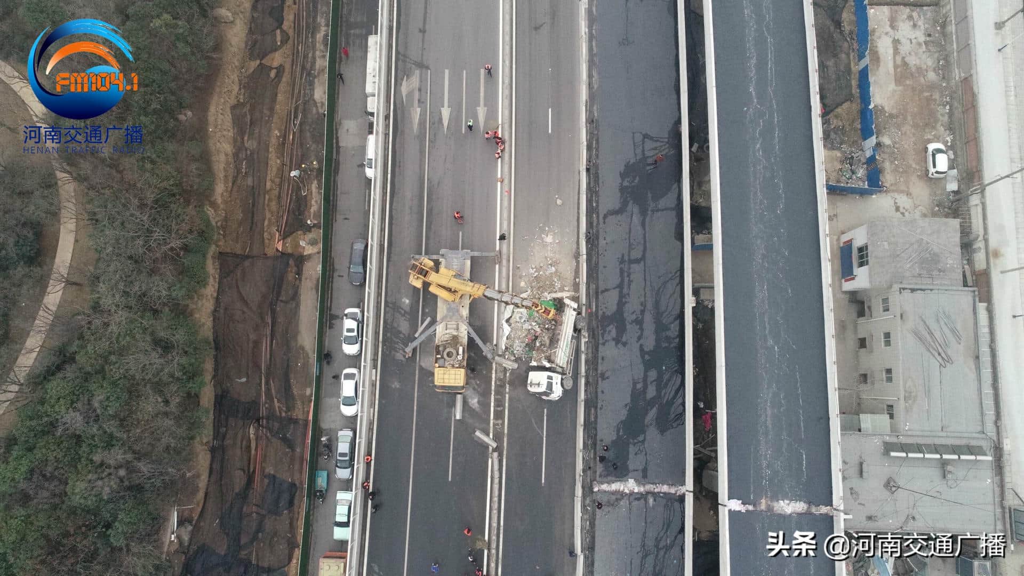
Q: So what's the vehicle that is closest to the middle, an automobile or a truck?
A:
truck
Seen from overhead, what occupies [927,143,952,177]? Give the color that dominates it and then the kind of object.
white car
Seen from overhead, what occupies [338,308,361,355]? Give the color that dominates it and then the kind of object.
white car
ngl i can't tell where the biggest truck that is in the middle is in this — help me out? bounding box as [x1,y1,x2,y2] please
[523,293,580,404]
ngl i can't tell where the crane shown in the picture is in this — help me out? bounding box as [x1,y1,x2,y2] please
[405,249,560,393]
